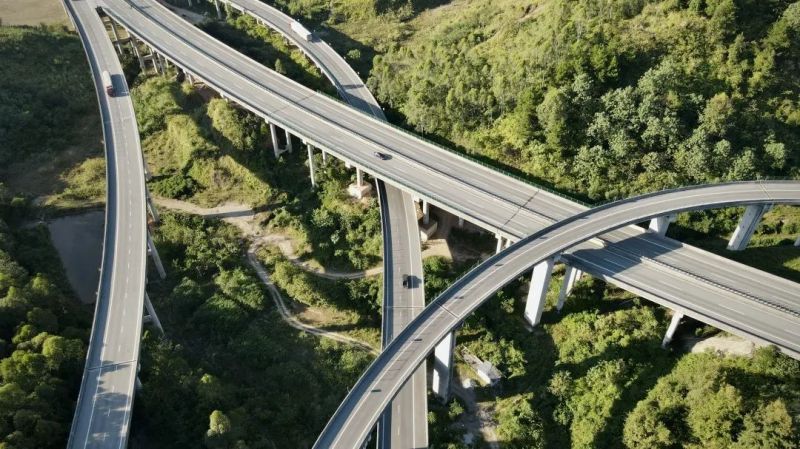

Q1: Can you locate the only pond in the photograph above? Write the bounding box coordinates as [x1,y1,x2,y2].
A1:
[53,211,105,295]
